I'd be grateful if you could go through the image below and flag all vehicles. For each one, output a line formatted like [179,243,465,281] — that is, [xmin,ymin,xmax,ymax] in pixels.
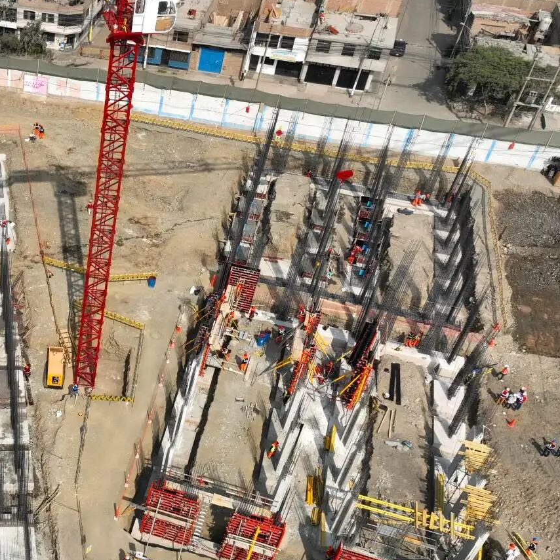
[527,158,560,190]
[389,40,410,56]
